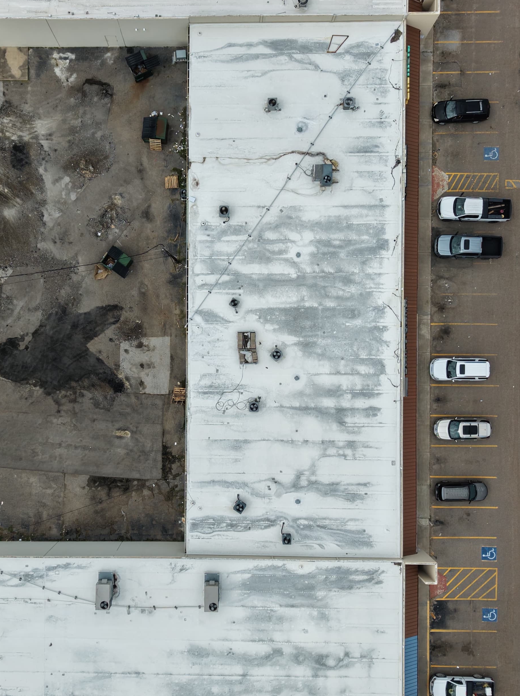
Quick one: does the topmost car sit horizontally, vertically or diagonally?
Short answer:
horizontally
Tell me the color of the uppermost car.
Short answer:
black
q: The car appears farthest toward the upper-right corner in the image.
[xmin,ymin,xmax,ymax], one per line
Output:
[432,98,491,128]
